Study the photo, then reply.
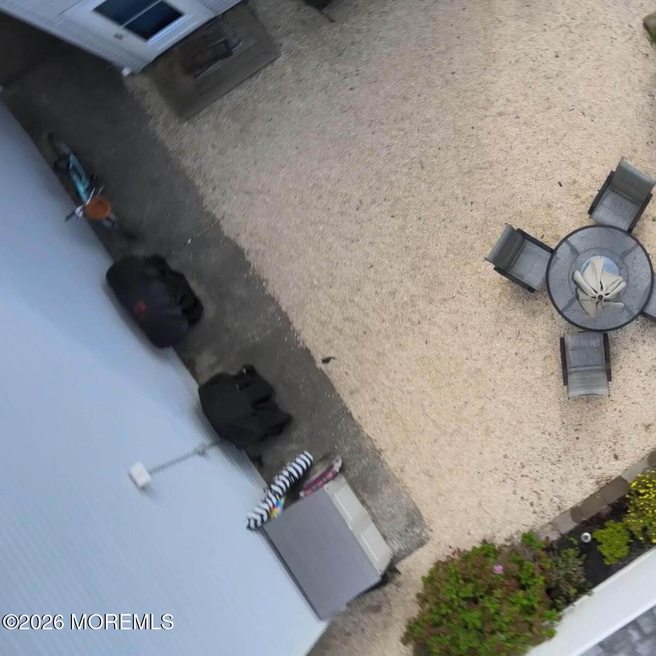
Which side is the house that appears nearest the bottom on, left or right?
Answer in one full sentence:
The house that appears nearest the bottom appears in the left half of the scene.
